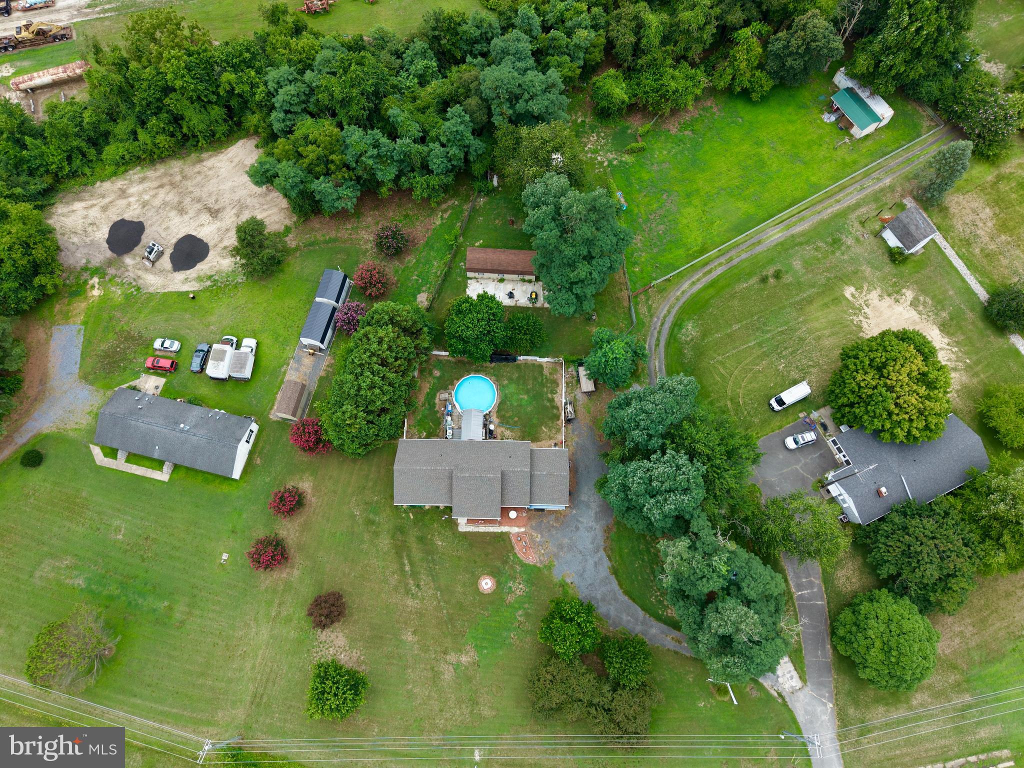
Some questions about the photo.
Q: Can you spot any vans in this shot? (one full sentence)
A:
Yes, there's a van down there.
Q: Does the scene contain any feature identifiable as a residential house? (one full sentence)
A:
Yes, you can see a residential house in this photo.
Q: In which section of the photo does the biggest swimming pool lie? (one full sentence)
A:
The biggest swimming pool is located in the center region of the scene.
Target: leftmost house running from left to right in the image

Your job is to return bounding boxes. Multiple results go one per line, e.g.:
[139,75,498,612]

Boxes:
[95,387,260,480]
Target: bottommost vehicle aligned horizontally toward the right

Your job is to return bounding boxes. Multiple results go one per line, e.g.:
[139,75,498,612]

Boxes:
[782,431,819,450]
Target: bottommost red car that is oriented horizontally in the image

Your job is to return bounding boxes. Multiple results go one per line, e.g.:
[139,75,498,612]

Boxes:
[145,356,179,374]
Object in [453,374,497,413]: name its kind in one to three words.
swimming pool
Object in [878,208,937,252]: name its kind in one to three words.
shed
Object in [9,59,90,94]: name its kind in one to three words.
storage tank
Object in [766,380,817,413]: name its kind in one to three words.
van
